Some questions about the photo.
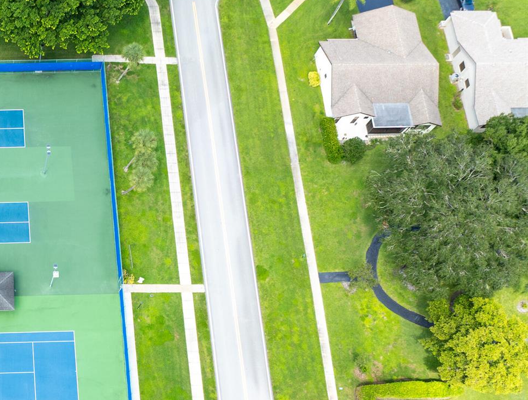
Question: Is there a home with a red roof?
No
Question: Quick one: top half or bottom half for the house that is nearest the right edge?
top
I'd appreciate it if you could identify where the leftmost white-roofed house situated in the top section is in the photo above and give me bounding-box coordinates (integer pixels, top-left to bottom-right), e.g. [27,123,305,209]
[316,5,443,143]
